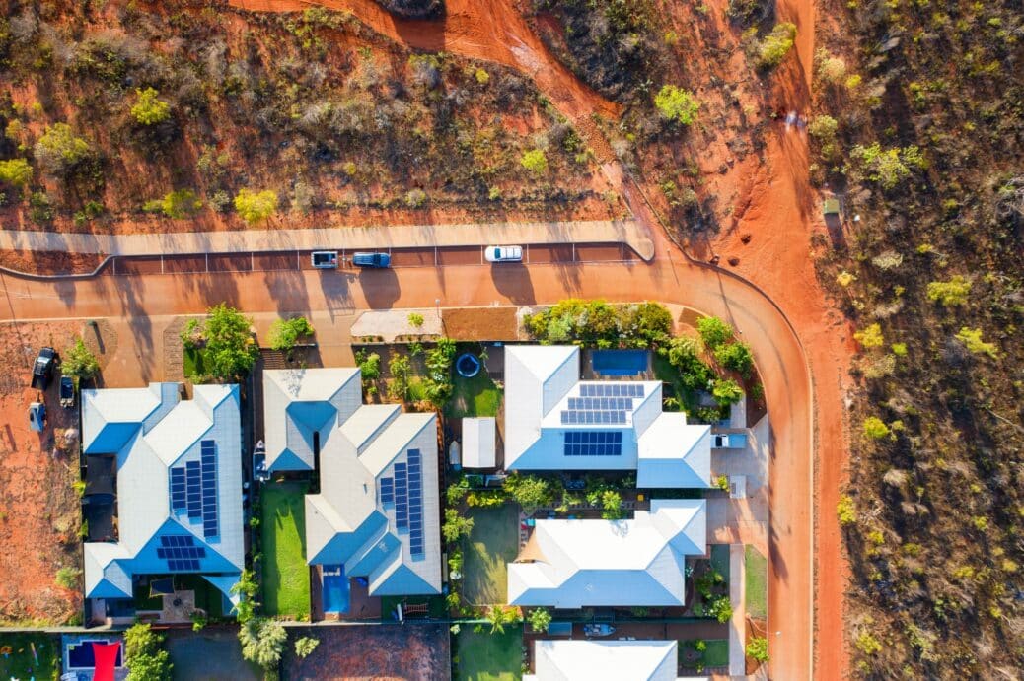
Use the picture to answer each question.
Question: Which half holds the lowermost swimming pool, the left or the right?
left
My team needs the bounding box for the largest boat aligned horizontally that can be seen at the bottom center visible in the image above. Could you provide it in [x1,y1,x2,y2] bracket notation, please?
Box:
[580,625,616,638]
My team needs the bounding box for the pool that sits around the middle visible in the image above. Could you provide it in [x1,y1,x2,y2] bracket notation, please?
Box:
[589,346,651,377]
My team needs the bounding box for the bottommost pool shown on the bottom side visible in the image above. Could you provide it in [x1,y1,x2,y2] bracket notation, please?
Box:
[66,639,125,671]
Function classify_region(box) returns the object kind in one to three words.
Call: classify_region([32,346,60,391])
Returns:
truck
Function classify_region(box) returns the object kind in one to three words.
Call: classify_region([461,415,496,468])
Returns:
shed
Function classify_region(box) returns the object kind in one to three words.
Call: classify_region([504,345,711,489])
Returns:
house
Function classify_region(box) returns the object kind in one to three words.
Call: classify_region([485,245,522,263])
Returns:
car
